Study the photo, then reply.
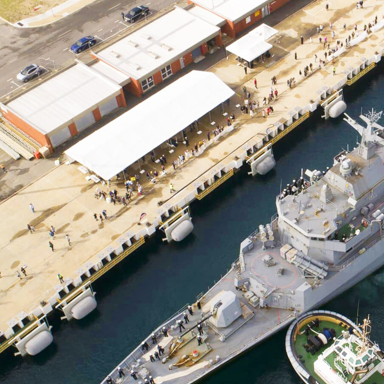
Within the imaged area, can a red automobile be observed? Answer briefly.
No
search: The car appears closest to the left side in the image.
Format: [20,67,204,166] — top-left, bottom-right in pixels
[13,63,40,82]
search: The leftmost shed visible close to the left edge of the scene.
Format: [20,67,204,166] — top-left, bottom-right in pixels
[0,57,128,154]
